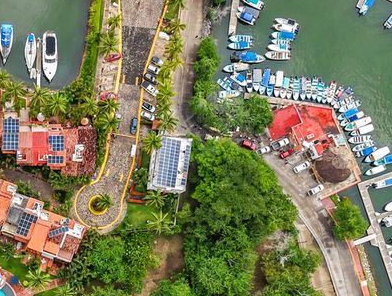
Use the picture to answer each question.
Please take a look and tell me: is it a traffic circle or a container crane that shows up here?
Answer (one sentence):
Looking from above, you can make out a traffic circle.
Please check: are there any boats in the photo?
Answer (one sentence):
Yes, looking at the shot, I can spot a boat.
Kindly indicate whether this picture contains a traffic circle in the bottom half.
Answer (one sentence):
Yes, a traffic circle is visible in the bottom half.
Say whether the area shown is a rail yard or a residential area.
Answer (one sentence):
This looks like a residential area.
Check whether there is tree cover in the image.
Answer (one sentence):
Yes, there is tree cover in the image.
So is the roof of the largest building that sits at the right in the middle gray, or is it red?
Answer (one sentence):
From above, the roof of the largest building that sits at the right in the middle appears red.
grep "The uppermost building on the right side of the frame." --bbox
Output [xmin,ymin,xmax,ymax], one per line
[262,103,344,162]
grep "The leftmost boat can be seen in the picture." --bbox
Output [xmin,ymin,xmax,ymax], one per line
[0,23,12,62]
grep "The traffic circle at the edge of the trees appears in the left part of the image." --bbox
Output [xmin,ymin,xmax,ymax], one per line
[71,184,123,237]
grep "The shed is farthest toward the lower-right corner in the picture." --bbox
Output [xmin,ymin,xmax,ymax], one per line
[312,153,351,181]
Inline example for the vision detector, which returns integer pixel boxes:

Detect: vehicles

[279,148,294,159]
[141,110,155,121]
[103,93,116,99]
[130,144,138,157]
[143,71,157,84]
[142,101,155,113]
[151,55,164,67]
[142,80,158,96]
[107,52,121,61]
[130,118,138,133]
[241,139,256,151]
[307,184,324,196]
[147,63,160,75]
[271,138,289,150]
[256,145,271,155]
[294,161,309,173]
